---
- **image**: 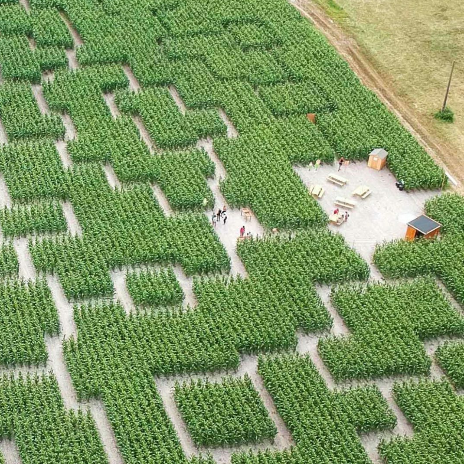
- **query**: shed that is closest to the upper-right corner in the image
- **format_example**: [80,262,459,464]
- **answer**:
[369,146,389,171]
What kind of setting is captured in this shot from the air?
farmland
